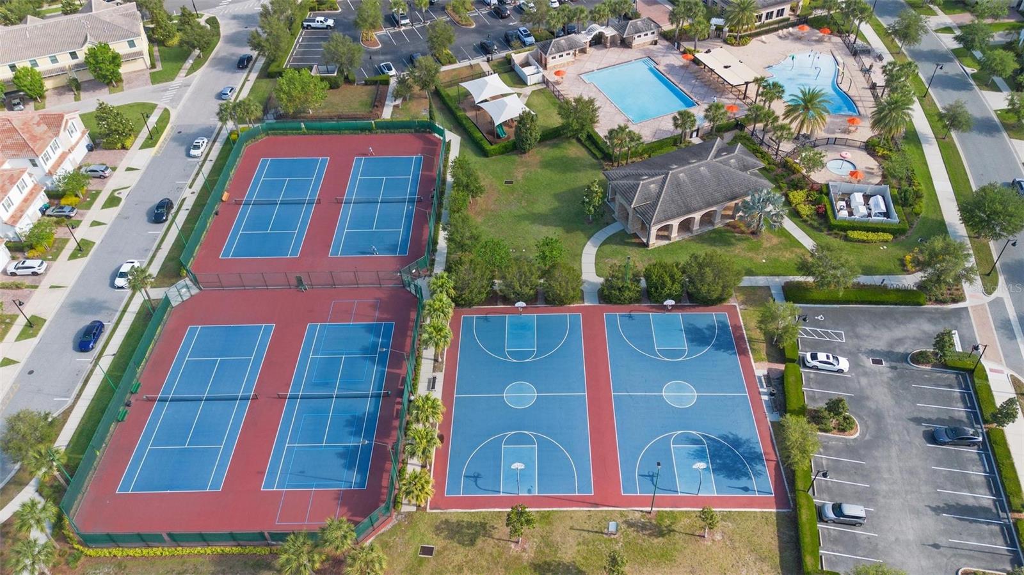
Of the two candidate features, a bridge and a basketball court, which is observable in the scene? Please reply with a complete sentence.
Visible in the photo is a basketball court.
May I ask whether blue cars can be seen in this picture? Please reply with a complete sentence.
Yes, a blue car appears in the view.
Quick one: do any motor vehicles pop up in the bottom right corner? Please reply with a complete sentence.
Yes, there is a motor vehicle in the bottom right corner.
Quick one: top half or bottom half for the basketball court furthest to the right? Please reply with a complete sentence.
The basketball court furthest to the right is in the bottom half of the image.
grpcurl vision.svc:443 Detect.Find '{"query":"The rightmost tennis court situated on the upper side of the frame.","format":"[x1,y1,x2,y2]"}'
[304,136,441,287]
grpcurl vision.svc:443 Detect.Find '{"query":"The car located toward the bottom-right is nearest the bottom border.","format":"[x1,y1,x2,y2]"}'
[821,499,872,526]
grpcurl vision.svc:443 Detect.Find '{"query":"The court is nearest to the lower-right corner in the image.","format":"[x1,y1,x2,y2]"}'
[592,304,791,511]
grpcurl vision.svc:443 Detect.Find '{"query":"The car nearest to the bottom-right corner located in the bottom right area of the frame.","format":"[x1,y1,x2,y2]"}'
[932,423,987,447]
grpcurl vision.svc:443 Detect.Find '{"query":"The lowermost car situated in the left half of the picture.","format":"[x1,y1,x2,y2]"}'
[75,318,104,352]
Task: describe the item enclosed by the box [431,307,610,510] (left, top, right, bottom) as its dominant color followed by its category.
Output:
blue basketball court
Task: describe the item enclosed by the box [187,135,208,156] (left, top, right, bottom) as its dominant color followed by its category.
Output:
white car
